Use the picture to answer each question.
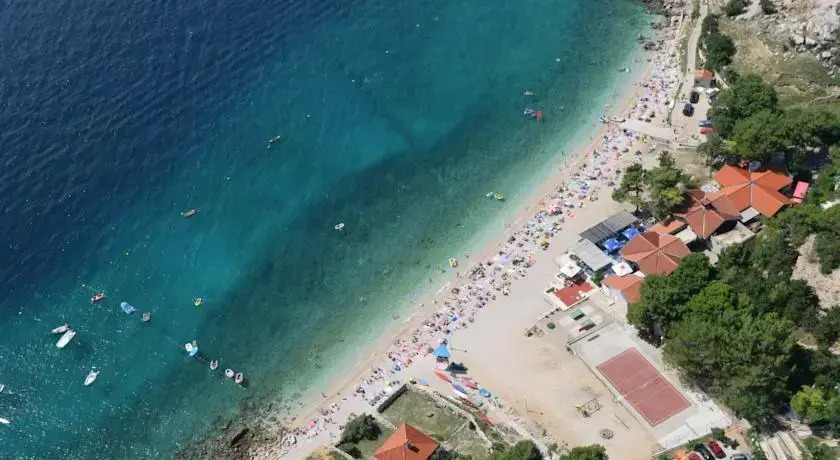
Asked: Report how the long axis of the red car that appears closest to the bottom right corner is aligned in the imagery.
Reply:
diagonally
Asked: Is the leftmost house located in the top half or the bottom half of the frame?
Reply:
bottom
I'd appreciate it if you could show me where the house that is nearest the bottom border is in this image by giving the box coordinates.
[373,422,442,460]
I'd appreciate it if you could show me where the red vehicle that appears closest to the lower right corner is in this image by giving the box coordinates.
[707,440,728,459]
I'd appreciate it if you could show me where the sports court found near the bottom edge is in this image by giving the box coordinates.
[568,322,731,451]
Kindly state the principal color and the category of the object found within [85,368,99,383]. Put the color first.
white boat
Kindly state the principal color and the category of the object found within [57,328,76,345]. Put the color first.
white boat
